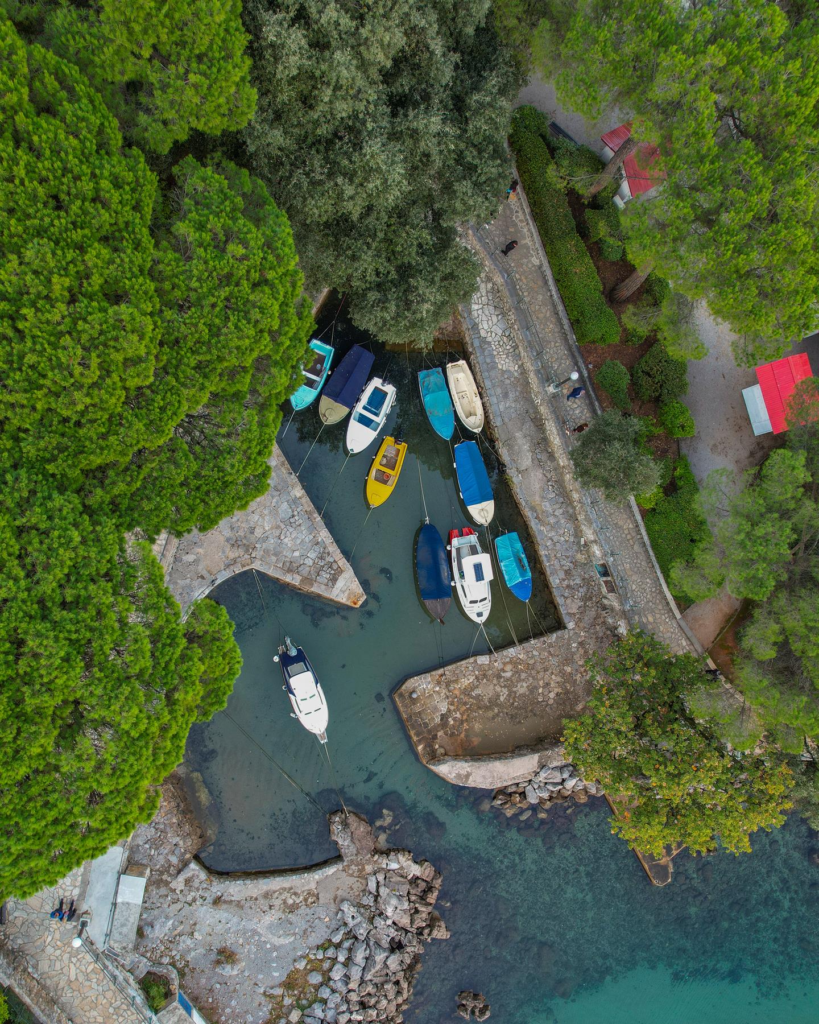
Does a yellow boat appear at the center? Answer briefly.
Yes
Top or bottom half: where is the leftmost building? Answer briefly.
bottom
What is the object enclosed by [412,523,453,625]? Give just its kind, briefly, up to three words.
boat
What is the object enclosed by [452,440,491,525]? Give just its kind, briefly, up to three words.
boat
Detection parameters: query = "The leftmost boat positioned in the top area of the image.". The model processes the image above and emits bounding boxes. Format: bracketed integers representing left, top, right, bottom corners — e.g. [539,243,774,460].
[290,338,333,410]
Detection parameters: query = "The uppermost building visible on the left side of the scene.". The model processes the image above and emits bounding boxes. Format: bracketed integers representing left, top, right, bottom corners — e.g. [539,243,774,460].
[112,856,151,951]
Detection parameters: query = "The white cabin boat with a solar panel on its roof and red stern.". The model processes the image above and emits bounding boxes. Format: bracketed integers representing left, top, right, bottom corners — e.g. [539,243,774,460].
[446,529,497,623]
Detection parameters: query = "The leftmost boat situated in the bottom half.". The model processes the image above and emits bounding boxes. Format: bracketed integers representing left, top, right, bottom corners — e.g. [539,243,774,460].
[270,632,331,747]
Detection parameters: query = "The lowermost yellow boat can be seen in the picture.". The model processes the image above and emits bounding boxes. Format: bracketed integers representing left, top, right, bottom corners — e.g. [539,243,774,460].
[367,435,406,508]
